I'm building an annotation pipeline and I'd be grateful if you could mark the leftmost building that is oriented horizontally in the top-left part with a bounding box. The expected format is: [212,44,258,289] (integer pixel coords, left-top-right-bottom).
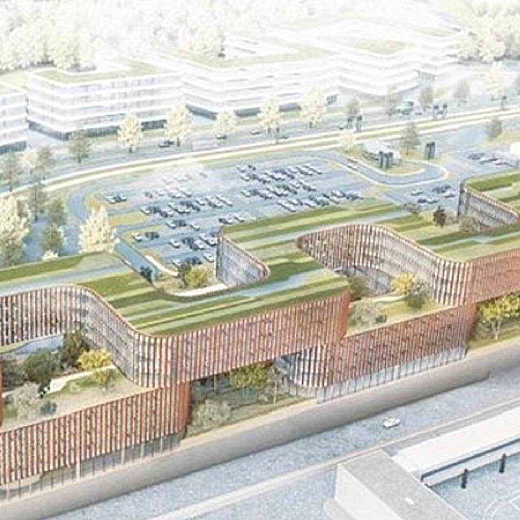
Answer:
[30,59,182,135]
